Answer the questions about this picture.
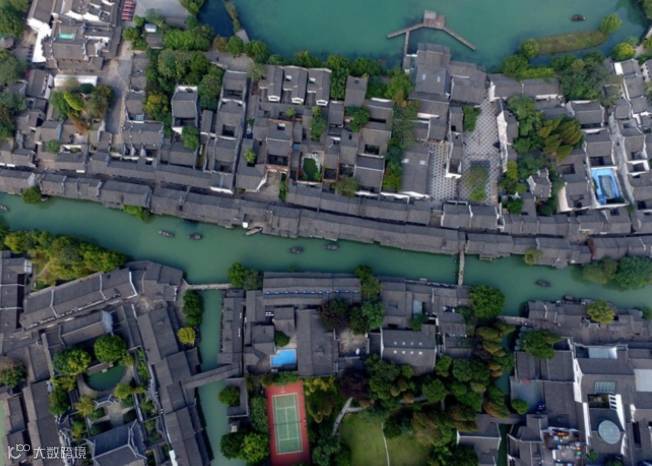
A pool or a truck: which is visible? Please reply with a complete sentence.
There is a pool in the scene.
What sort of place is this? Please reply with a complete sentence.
This image shows a residential area.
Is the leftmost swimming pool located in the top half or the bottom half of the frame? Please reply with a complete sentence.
The leftmost swimming pool sits in the bottom half of the picture.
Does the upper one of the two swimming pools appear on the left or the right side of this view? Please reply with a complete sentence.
The upper one of the two swimming pools is on the right side of the image.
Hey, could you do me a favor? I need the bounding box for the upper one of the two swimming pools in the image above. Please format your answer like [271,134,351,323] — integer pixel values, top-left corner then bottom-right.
[593,169,630,208]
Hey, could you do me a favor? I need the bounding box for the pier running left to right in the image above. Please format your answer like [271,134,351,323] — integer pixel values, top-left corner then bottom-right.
[386,11,476,53]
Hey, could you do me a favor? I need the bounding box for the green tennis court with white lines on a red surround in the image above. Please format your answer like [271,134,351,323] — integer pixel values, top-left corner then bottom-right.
[266,381,307,466]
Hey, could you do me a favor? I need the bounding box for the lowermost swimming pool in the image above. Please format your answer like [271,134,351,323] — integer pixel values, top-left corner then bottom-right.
[270,347,297,371]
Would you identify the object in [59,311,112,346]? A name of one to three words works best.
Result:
house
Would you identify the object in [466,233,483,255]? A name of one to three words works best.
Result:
house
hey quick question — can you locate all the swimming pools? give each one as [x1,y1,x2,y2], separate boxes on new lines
[593,169,630,208]
[270,347,297,371]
